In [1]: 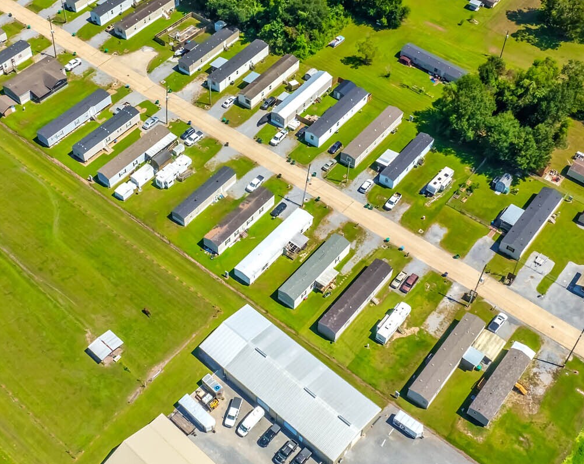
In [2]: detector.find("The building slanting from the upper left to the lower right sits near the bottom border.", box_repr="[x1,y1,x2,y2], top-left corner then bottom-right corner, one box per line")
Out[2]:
[196,307,381,464]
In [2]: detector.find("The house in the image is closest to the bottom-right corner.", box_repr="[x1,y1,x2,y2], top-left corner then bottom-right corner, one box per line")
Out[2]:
[463,337,538,428]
